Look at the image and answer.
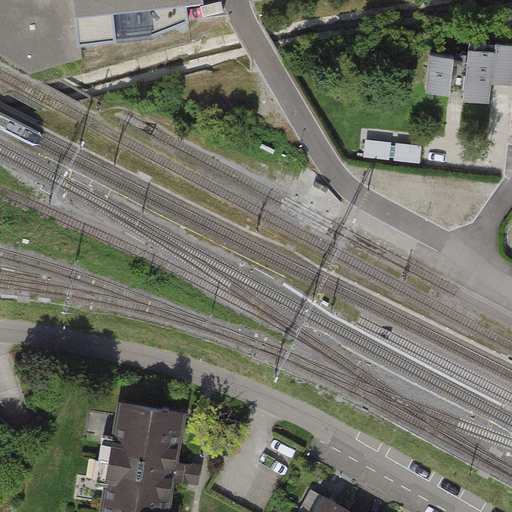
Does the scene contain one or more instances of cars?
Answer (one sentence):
Yes, a car can be made out from above.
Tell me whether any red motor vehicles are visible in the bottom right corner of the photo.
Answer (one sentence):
No, the scene shows no red motor vehicle in the bottom right corner of the photo.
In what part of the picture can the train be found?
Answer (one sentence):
You can find the train in the top left area of the picture.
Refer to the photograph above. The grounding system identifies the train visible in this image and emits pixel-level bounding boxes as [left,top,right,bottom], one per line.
[0,112,44,146]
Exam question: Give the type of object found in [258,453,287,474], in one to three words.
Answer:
truck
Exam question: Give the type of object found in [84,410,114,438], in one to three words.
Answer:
building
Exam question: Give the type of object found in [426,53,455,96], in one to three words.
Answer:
house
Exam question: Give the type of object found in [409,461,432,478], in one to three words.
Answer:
car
